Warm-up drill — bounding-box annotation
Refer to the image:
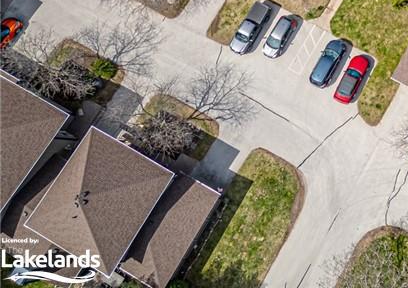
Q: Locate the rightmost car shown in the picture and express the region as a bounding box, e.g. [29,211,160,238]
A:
[333,56,368,103]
